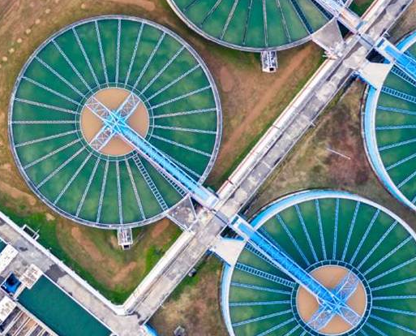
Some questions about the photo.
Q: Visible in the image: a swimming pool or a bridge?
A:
bridge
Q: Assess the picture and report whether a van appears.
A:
No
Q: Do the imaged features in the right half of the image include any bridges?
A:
Yes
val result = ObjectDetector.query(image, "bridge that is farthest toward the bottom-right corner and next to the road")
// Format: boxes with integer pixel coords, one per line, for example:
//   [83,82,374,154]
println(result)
[227,214,353,319]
